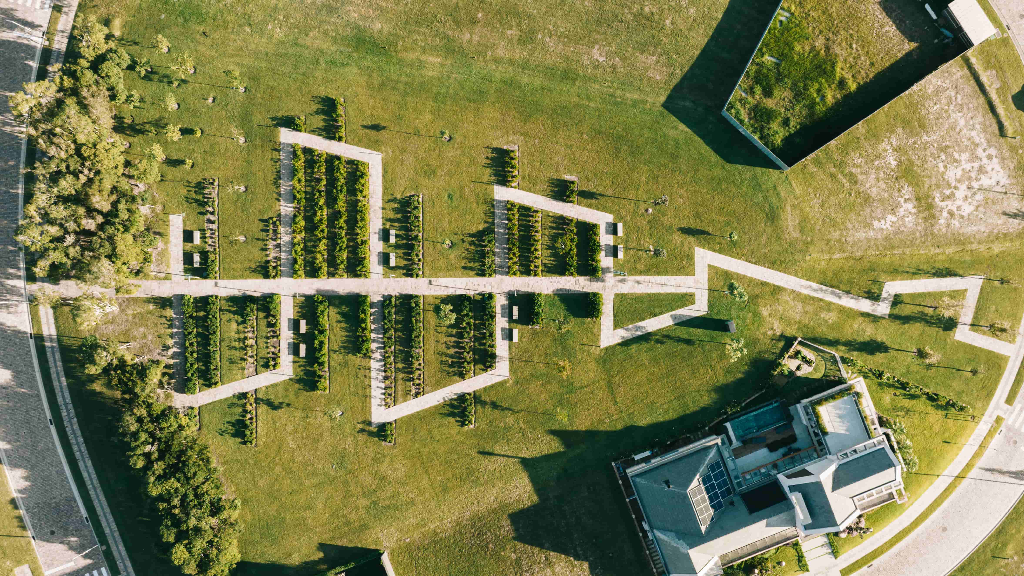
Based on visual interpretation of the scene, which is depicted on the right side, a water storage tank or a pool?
pool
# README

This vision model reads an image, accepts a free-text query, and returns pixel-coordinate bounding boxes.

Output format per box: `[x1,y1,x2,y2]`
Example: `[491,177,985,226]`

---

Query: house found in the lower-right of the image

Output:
[621,376,908,576]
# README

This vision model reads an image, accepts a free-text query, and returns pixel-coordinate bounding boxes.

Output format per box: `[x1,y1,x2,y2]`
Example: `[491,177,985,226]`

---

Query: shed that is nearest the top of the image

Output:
[941,0,996,49]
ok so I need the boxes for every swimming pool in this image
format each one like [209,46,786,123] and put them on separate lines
[724,400,787,446]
